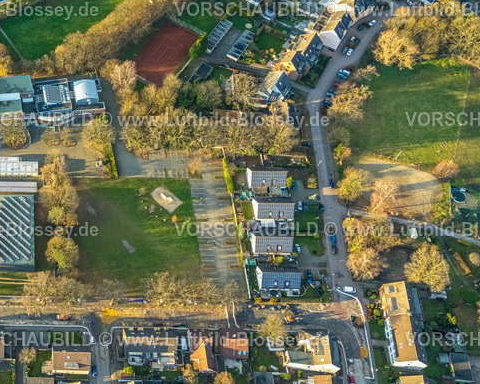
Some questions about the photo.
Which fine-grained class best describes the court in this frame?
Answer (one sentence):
What you see as the court is a tennis court.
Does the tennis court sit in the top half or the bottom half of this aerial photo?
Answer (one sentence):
The top half of the photo is where the tennis court is.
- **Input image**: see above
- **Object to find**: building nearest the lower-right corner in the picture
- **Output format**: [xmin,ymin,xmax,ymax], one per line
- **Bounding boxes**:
[448,353,472,383]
